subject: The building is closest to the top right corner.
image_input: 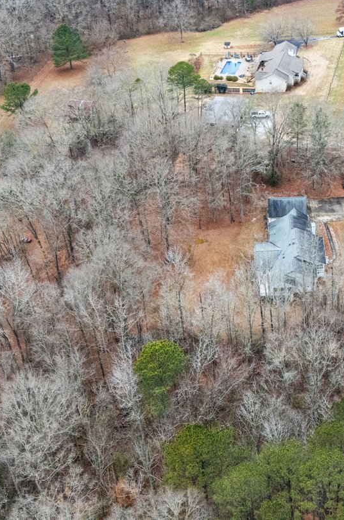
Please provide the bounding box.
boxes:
[255,38,315,90]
